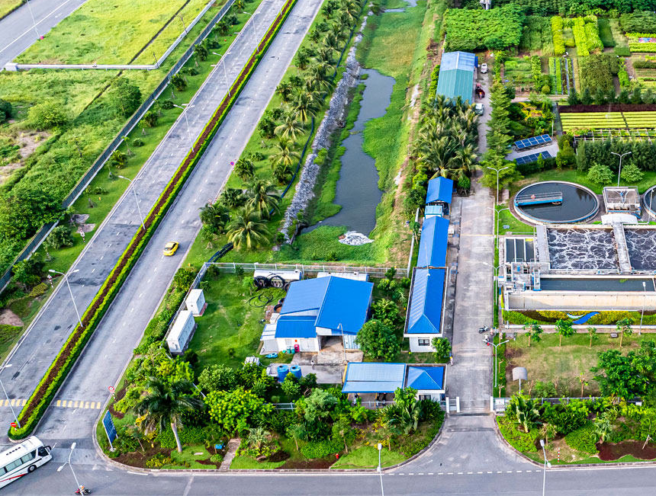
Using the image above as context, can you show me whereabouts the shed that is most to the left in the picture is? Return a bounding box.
[254,275,371,355]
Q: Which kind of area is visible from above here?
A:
industrial area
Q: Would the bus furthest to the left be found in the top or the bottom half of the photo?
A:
bottom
